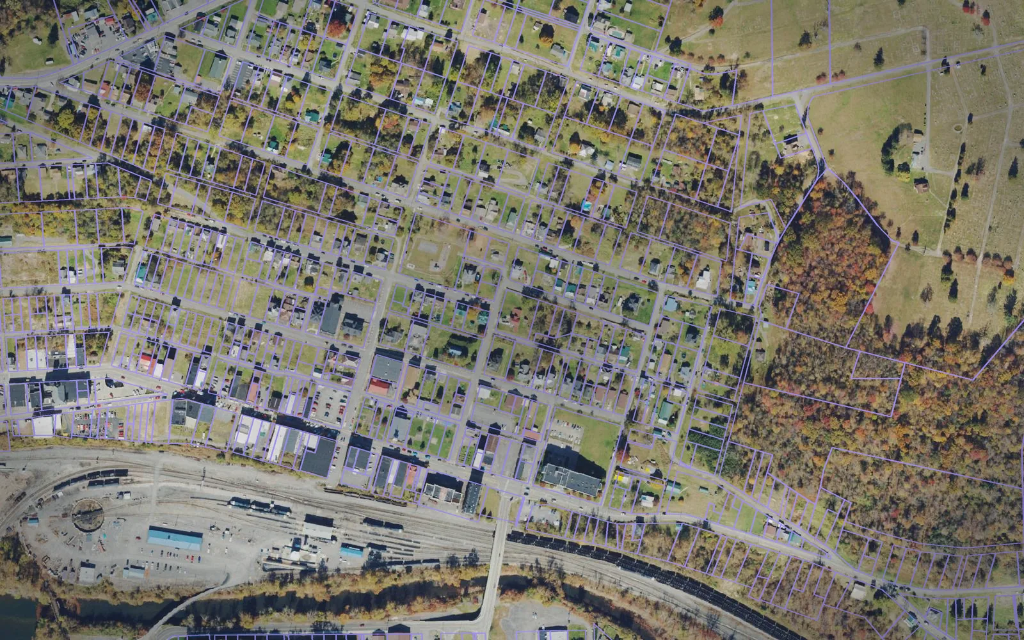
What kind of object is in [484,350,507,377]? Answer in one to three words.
house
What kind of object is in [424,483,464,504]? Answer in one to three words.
building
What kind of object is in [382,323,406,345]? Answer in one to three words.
house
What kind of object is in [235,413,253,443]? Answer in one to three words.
building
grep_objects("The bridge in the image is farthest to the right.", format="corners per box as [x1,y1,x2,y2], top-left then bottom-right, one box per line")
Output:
[480,491,514,616]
